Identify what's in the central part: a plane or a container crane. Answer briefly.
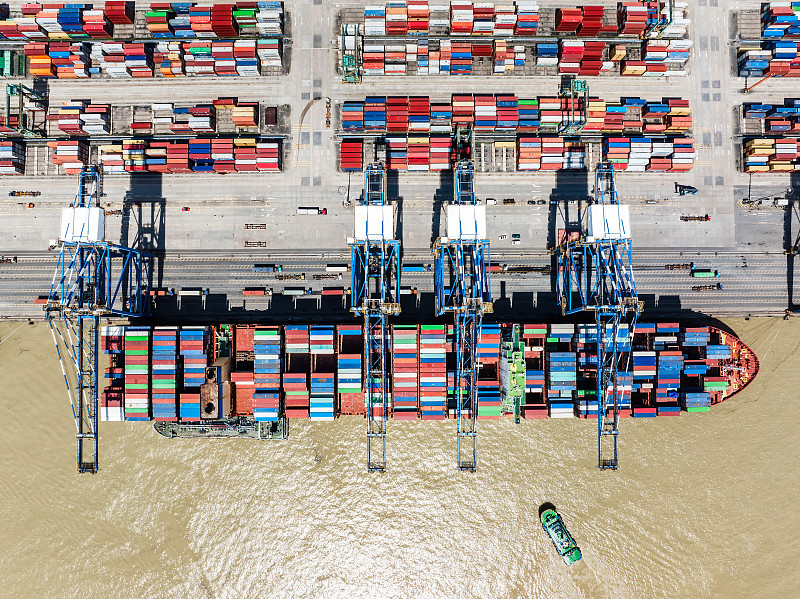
container crane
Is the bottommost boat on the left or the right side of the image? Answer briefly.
right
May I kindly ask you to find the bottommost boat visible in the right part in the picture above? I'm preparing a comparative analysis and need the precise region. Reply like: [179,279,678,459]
[541,501,581,566]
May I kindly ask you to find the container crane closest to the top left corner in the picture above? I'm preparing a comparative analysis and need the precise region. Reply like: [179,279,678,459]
[0,24,30,84]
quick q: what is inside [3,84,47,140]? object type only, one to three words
container crane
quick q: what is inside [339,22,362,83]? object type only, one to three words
container crane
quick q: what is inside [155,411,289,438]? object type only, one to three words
ship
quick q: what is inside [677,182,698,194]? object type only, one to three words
vehicle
